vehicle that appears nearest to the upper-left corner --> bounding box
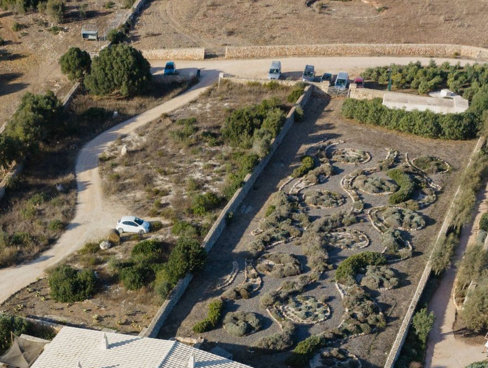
[162,60,175,74]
